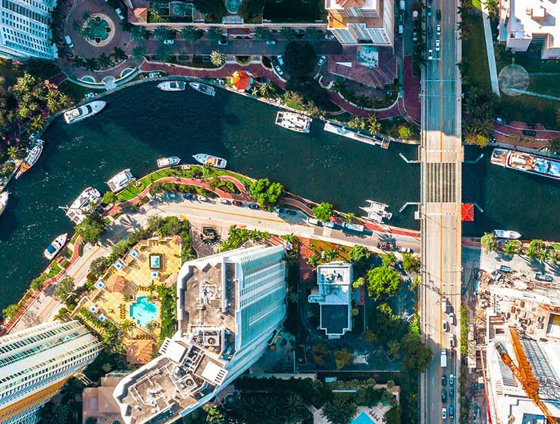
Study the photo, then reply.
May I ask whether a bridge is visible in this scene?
Yes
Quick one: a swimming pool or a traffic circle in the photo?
swimming pool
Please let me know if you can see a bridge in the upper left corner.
No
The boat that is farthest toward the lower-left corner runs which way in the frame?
diagonally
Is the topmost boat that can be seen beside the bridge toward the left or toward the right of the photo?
right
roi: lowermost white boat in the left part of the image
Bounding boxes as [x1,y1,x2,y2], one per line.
[43,233,69,259]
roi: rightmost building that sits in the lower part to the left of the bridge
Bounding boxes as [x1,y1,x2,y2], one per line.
[302,262,356,341]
